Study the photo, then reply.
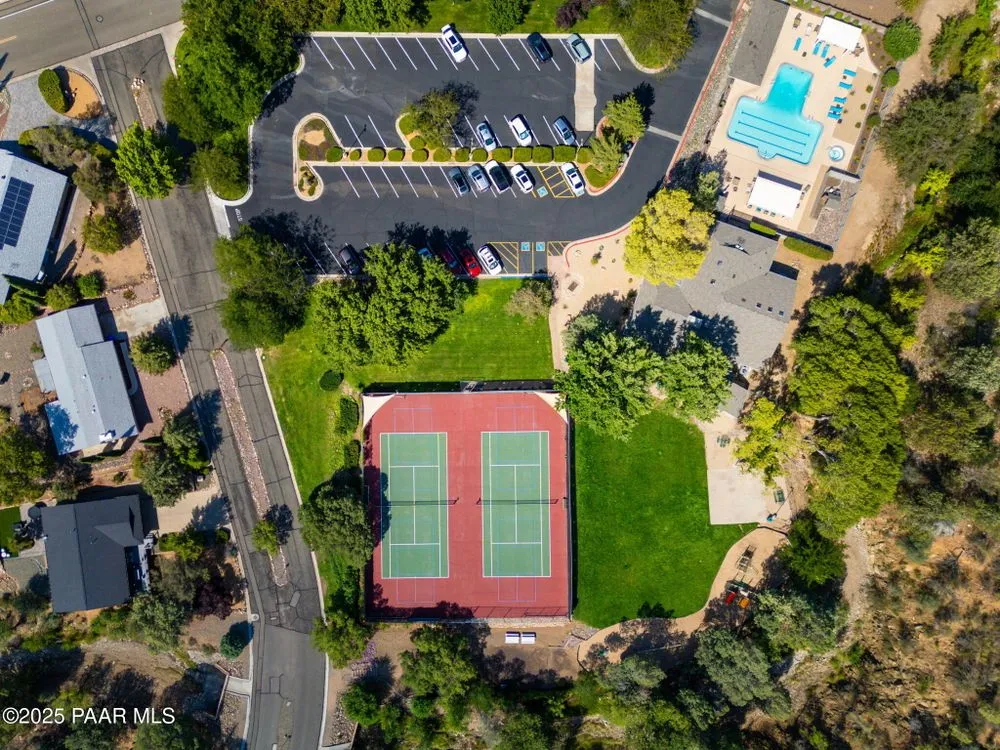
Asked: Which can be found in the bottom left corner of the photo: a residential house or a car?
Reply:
residential house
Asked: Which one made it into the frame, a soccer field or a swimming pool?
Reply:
swimming pool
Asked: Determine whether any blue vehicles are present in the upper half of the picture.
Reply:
Yes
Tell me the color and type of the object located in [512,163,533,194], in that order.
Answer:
white car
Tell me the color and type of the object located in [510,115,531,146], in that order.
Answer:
white car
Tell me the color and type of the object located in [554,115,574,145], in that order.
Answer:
blue car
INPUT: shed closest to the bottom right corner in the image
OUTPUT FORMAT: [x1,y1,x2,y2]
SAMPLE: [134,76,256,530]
[717,385,748,417]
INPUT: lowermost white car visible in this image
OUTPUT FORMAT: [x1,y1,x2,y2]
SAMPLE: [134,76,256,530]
[479,243,500,273]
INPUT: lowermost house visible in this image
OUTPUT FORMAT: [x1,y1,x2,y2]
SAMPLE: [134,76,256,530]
[41,495,150,613]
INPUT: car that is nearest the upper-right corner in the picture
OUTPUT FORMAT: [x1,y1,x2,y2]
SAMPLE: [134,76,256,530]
[569,33,590,63]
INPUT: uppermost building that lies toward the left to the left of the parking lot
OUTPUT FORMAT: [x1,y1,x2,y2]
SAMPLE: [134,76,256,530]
[0,150,74,296]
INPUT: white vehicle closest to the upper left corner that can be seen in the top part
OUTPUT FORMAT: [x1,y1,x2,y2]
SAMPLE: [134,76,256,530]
[441,23,465,59]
